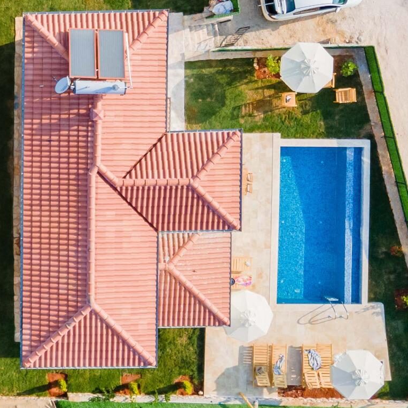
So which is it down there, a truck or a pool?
pool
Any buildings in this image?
Yes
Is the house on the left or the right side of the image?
left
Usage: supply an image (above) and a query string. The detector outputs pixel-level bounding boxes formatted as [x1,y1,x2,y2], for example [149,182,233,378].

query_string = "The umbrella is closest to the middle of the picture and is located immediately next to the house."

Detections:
[231,292,273,340]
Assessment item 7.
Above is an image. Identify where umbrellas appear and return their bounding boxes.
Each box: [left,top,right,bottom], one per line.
[231,292,273,340]
[329,350,383,399]
[282,42,332,92]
